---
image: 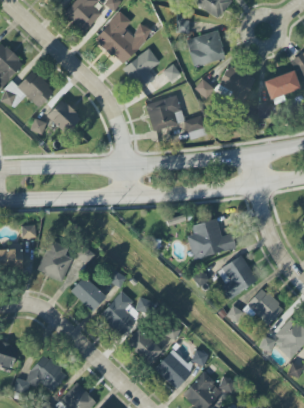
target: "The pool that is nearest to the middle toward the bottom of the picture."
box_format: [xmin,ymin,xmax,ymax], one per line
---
[172,239,188,262]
